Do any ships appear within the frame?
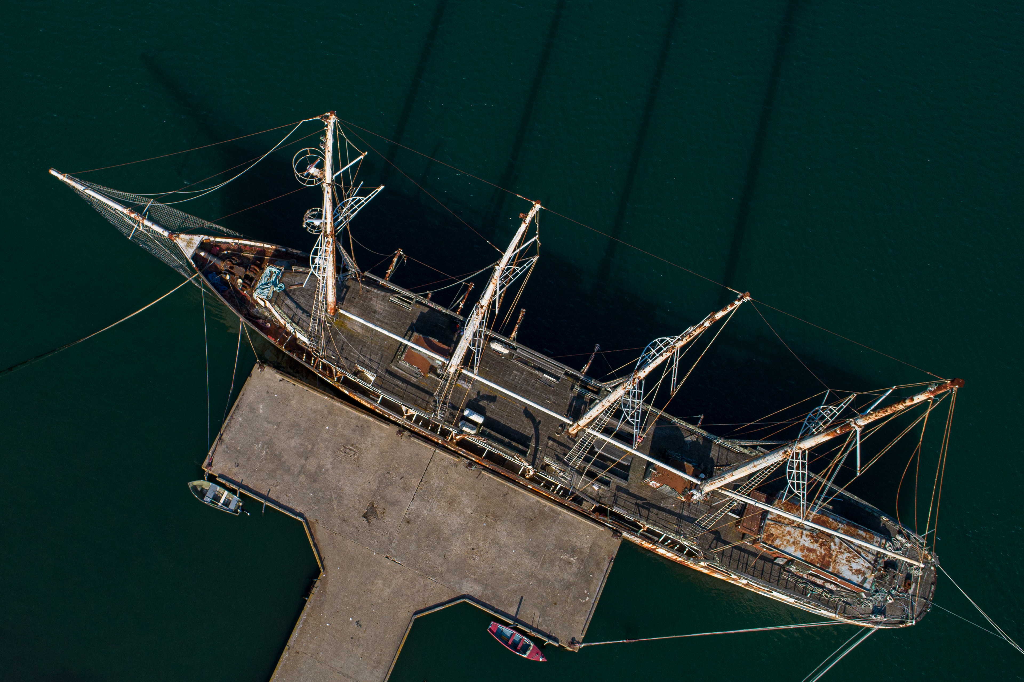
Yes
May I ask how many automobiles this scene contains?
0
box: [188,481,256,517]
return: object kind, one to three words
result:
boat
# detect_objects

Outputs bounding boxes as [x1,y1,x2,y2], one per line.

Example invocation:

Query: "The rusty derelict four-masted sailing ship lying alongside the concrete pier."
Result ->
[52,108,966,633]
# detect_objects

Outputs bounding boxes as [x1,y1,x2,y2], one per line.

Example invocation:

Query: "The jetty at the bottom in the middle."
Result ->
[202,366,621,682]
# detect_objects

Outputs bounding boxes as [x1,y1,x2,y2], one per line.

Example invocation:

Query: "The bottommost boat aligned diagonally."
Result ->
[487,622,547,662]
